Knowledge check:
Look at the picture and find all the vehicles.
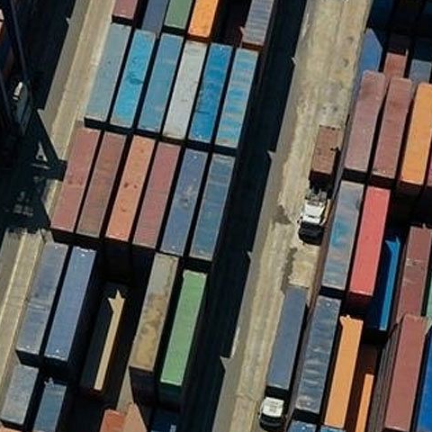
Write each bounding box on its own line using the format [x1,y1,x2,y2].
[295,178,324,240]
[256,377,282,428]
